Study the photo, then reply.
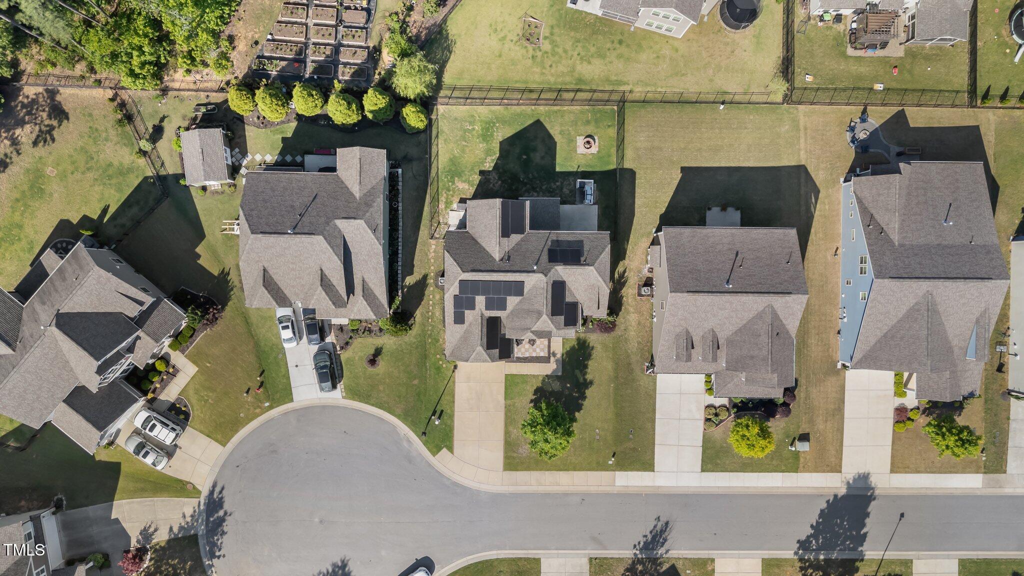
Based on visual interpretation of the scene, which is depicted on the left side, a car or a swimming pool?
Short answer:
car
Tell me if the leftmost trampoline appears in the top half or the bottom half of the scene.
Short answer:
top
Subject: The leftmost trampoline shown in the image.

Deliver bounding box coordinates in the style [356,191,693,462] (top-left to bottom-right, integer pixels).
[718,0,764,29]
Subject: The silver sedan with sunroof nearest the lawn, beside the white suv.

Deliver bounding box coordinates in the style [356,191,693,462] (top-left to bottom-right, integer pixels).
[127,432,170,467]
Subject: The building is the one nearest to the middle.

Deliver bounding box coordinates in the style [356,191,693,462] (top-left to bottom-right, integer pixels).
[445,197,610,362]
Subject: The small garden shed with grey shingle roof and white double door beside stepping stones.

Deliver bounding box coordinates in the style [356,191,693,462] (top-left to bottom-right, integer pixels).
[179,128,234,185]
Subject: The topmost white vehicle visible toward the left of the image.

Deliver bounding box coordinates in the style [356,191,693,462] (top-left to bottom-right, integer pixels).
[276,307,301,348]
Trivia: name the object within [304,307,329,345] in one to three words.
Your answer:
car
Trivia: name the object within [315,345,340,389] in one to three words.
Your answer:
car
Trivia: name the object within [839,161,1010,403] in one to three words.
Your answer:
house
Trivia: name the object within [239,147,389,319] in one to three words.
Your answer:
house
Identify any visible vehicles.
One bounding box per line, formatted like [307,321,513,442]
[304,307,329,345]
[276,307,301,348]
[406,565,430,576]
[127,432,170,467]
[139,409,185,446]
[315,345,340,389]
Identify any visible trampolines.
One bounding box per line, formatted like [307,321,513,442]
[1006,9,1024,45]
[718,0,764,29]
